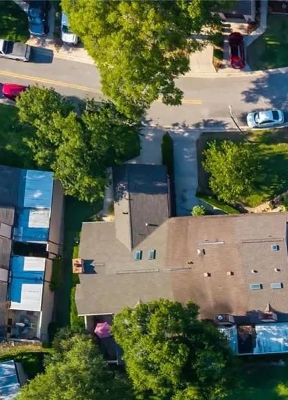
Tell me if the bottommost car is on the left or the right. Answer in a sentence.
The bottommost car is on the right side of the image.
